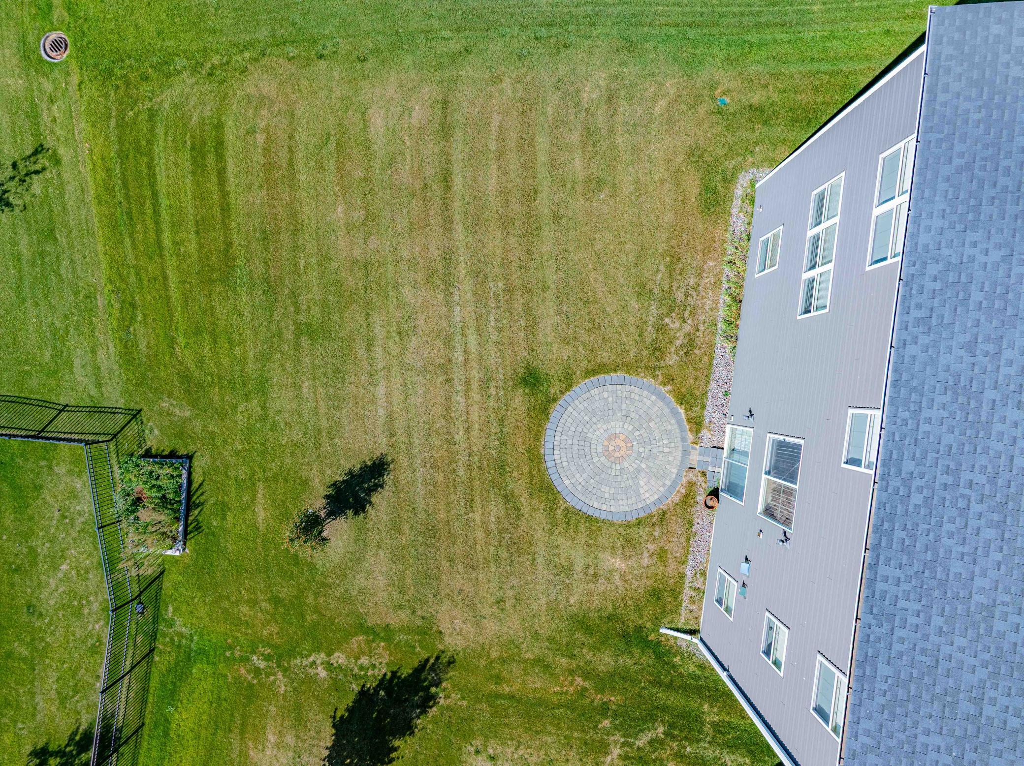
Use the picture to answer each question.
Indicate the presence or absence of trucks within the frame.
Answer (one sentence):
No, I can see no truck in this picture.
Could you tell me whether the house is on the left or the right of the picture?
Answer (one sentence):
The house appears in the right half of the scene.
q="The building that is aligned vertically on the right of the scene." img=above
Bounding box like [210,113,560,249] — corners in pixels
[662,1,1024,766]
